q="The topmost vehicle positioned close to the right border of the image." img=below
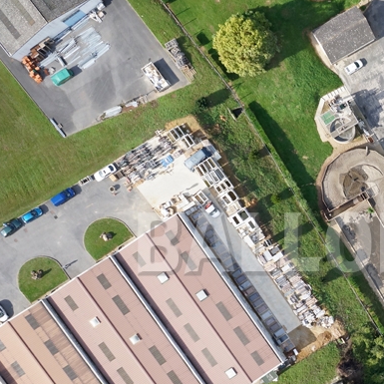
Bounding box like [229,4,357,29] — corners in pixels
[342,57,366,75]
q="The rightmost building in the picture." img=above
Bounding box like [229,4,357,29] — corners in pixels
[313,6,377,65]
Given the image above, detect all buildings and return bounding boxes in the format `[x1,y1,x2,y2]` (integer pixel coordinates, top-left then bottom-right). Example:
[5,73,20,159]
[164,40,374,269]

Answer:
[0,0,103,58]
[0,211,287,384]
[313,6,377,65]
